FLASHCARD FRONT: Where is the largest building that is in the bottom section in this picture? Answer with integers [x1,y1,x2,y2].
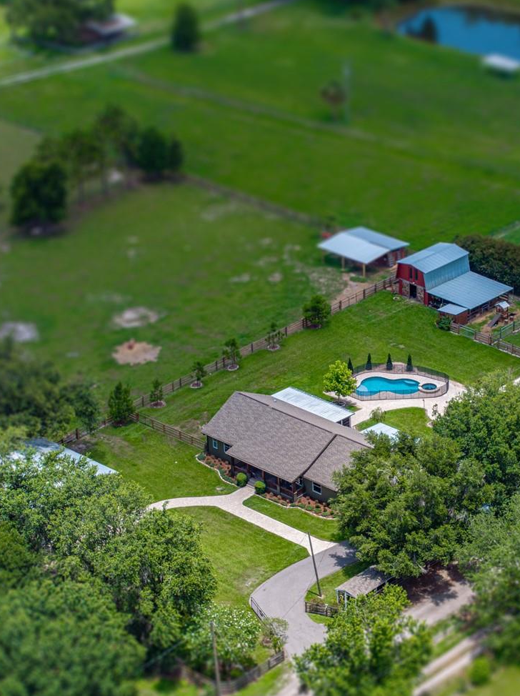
[202,388,386,513]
